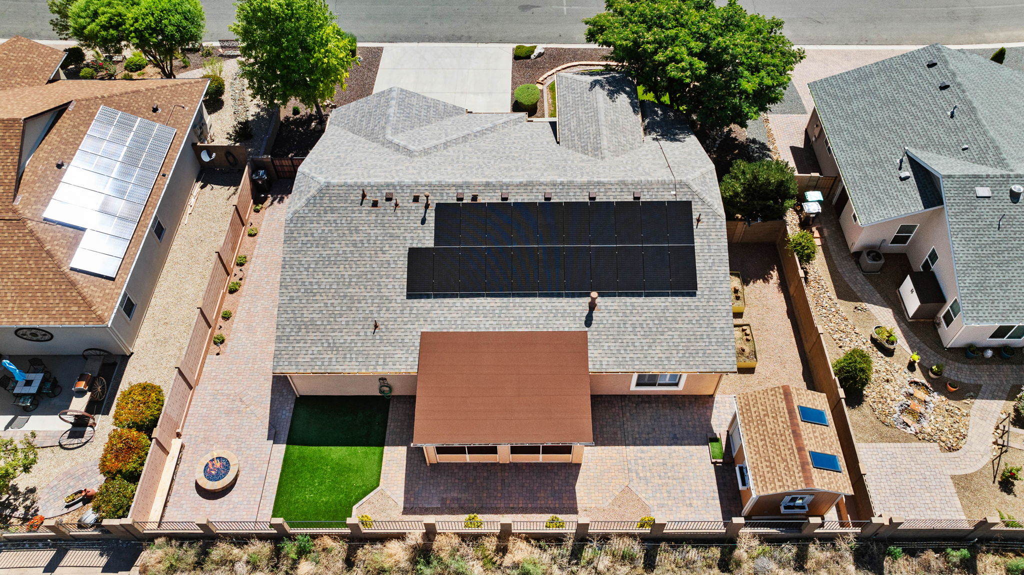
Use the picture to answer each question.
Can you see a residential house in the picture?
Yes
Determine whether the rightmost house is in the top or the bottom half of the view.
top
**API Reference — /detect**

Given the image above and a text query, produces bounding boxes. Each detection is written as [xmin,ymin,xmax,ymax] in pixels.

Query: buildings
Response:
[273,72,737,466]
[725,386,855,517]
[0,36,223,356]
[803,45,1024,350]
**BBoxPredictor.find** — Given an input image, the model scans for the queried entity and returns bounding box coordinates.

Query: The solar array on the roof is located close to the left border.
[39,108,177,277]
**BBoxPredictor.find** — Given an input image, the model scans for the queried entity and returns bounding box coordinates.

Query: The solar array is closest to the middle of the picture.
[406,202,695,301]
